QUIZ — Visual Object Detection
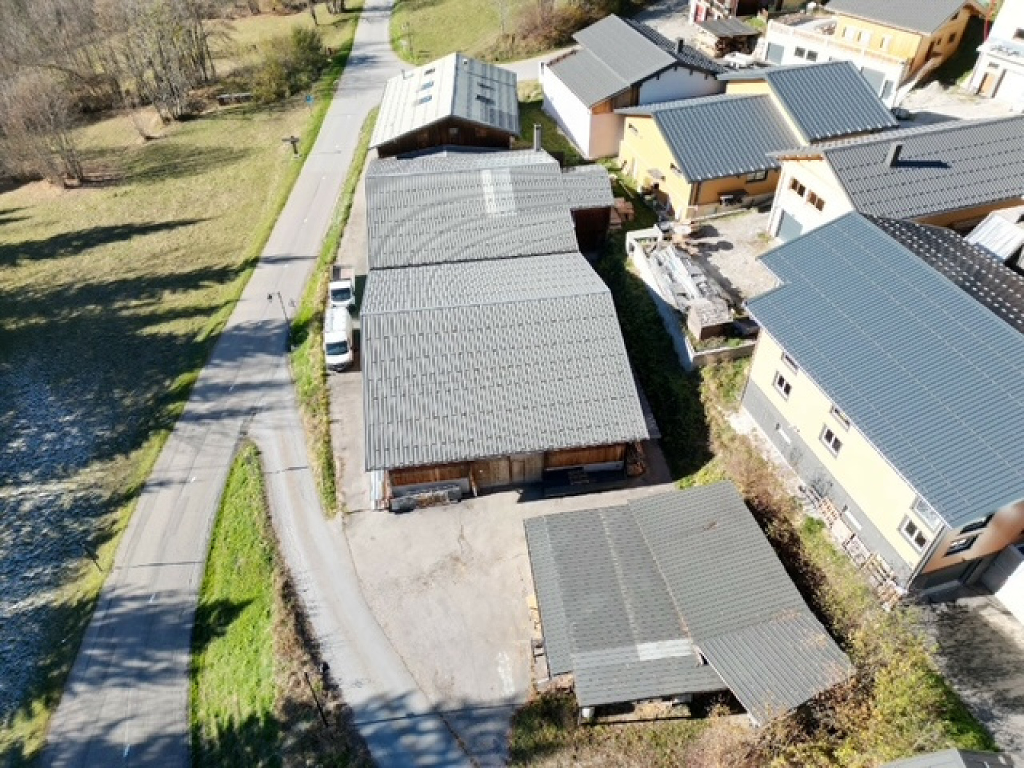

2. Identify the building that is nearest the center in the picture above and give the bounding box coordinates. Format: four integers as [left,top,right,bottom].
[360,251,652,513]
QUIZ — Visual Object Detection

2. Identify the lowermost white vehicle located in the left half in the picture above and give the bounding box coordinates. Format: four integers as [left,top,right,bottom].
[320,303,355,369]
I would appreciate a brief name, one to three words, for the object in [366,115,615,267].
barn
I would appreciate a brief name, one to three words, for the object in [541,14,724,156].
house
